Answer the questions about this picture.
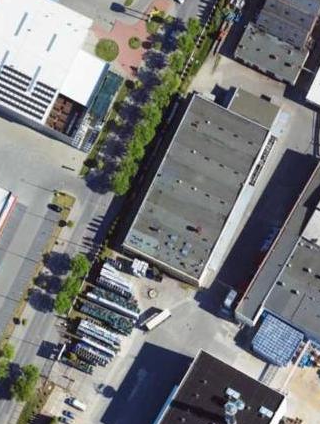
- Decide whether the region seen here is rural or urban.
urban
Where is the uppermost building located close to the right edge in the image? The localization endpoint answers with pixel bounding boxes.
[251,0,320,56]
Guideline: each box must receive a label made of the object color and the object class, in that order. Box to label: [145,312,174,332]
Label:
white vehicle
